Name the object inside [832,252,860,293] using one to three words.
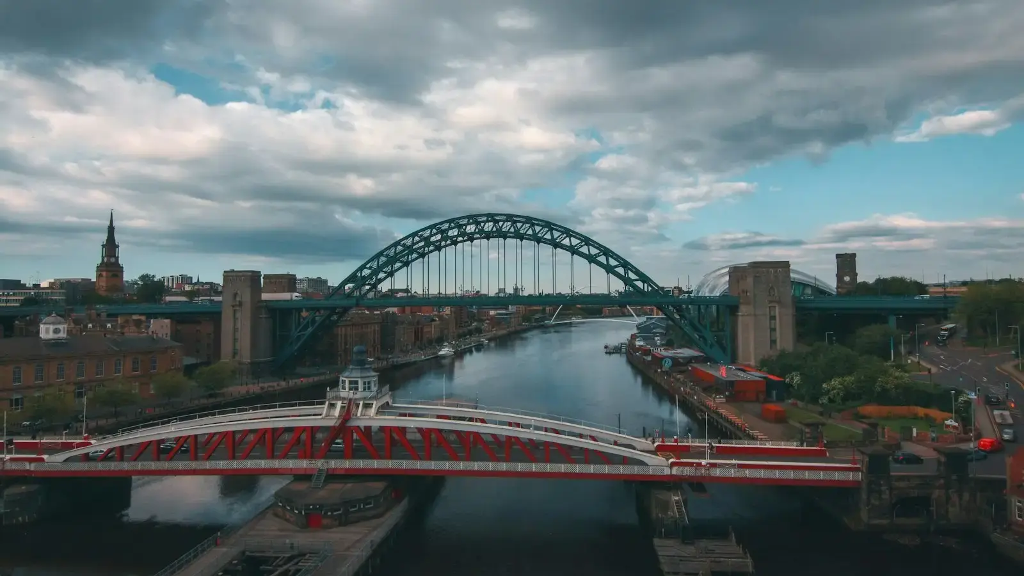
building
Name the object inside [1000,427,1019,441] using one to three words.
car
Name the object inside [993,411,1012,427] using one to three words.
vehicle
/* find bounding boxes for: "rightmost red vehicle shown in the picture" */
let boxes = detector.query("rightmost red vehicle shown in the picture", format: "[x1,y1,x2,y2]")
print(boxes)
[971,438,1010,454]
